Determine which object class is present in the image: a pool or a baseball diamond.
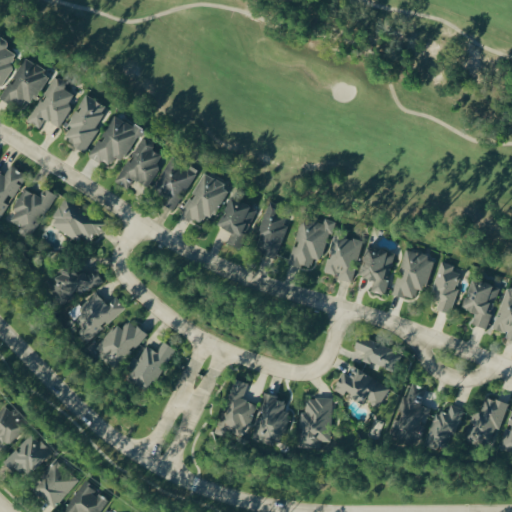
pool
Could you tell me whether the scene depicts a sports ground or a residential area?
residential area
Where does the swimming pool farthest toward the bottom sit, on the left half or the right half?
right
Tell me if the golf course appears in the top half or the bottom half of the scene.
top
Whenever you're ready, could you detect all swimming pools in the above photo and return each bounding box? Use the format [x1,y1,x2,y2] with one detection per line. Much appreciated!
[460,272,470,297]
[371,230,402,254]
[42,226,65,247]
[347,398,371,424]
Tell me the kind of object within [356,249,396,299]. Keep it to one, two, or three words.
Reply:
house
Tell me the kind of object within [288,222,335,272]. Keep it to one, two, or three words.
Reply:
house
